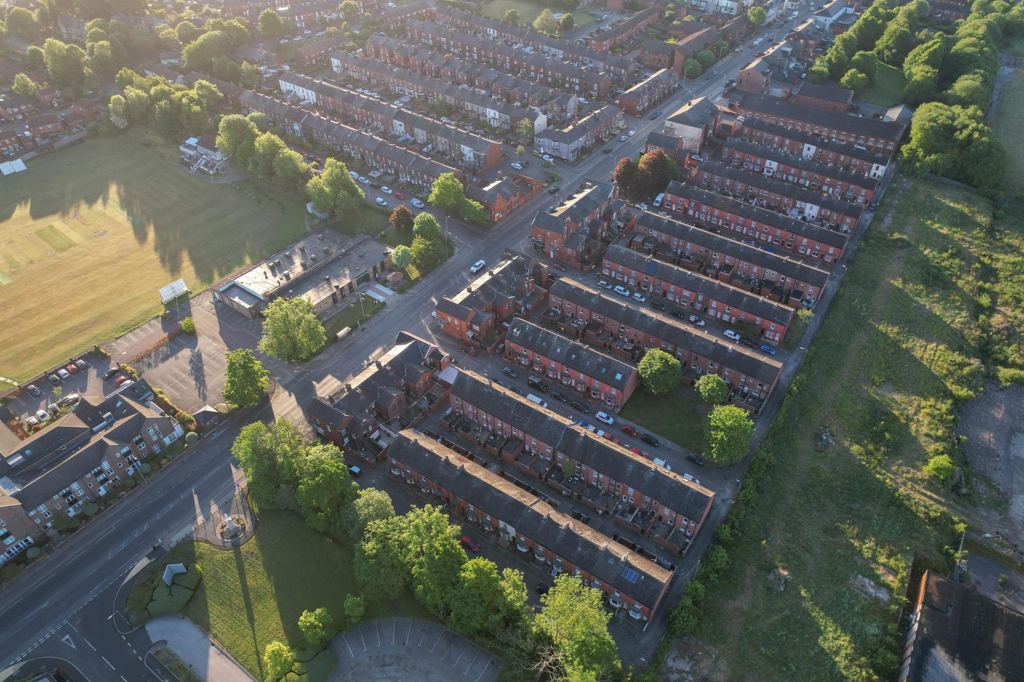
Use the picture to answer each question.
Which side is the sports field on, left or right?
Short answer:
left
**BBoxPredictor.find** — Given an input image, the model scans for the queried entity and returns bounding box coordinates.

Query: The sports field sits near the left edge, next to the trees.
[0,122,308,391]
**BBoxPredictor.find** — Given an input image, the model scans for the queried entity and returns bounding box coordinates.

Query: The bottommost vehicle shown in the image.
[532,579,548,595]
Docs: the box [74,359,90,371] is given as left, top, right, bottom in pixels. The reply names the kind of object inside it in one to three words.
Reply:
vehicle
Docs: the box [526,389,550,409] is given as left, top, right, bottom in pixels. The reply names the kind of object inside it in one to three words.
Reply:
vehicle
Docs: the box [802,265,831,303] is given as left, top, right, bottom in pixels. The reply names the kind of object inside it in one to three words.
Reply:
house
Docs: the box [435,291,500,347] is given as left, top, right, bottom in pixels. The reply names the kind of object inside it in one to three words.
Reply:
building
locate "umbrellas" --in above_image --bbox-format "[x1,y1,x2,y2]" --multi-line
[385,270,403,283]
